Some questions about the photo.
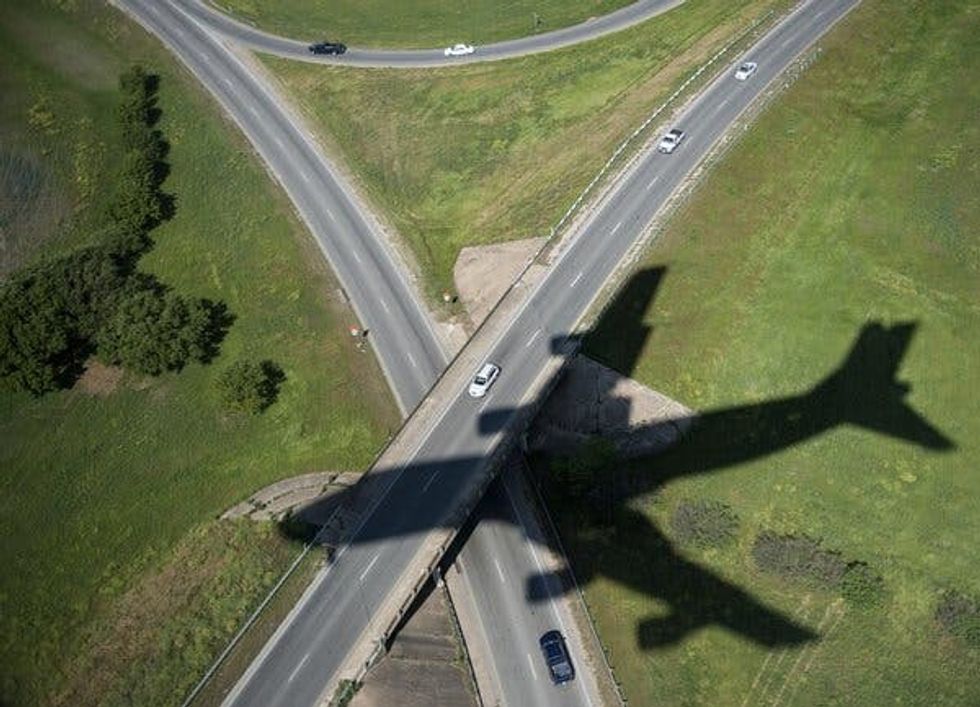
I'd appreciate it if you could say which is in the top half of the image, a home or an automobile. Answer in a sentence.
There is an automobile in the top half of the image.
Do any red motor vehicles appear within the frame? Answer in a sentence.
No, there's no red motor vehicle here.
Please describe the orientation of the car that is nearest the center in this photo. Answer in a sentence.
Seen from above, the car that is nearest the center lies diagonally.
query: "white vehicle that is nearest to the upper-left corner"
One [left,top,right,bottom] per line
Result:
[444,44,475,59]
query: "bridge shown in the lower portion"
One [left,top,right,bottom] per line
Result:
[230,236,685,707]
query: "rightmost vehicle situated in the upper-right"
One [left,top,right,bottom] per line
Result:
[732,62,758,84]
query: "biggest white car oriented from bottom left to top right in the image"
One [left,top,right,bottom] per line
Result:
[465,362,502,403]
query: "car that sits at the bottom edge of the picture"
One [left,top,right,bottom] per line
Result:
[539,629,576,691]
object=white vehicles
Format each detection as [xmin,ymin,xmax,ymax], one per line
[444,44,475,59]
[465,362,502,403]
[732,62,758,84]
[656,126,687,157]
